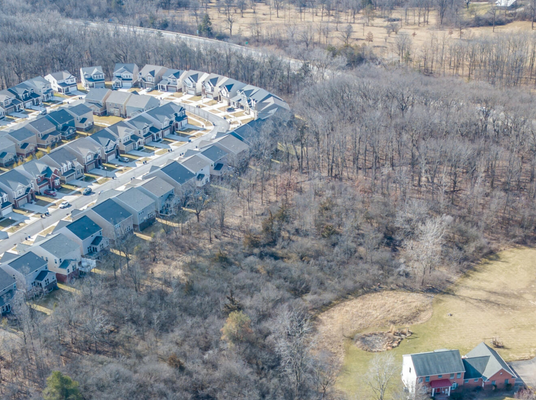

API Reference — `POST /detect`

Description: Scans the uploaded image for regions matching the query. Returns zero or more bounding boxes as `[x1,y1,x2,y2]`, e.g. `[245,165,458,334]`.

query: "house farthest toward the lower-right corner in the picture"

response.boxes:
[401,341,518,400]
